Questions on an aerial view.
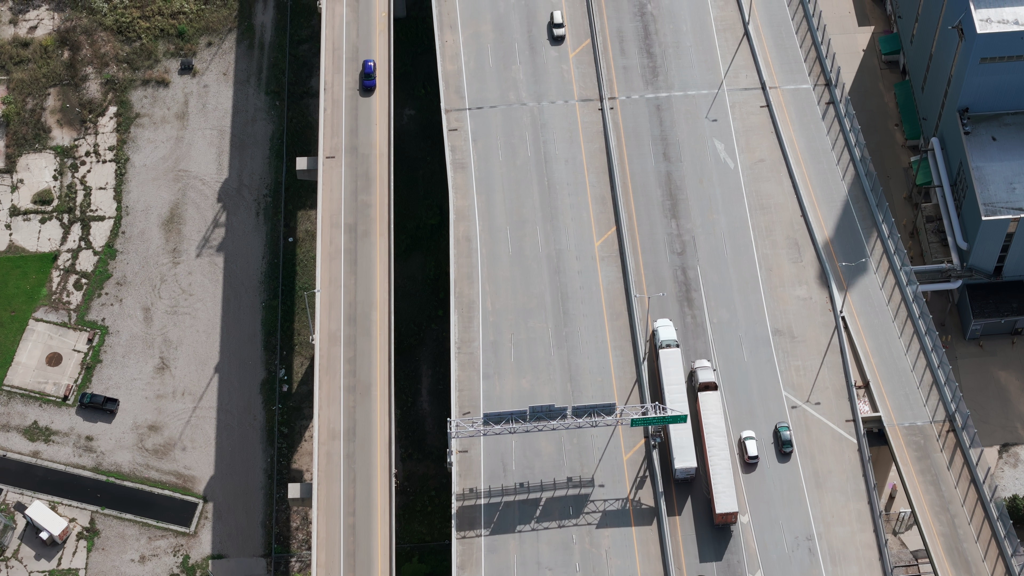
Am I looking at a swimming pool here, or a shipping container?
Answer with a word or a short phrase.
shipping container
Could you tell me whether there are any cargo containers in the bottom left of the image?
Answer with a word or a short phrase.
Yes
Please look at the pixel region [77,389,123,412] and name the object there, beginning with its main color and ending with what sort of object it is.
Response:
black truck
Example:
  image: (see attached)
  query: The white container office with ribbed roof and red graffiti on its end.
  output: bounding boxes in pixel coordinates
[24,500,72,544]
